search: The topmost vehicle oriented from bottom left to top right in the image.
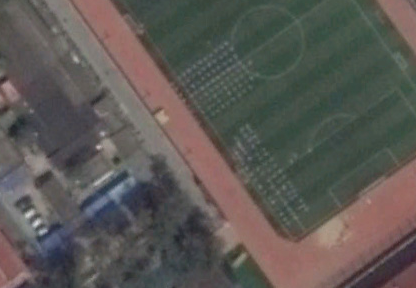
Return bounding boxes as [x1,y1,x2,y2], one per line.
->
[16,194,32,208]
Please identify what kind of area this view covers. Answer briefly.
sports ground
